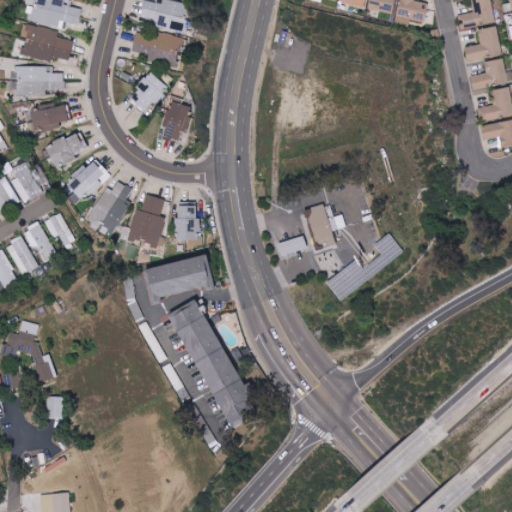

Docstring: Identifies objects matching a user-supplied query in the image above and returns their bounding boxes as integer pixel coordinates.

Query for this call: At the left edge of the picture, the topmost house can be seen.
[25,0,80,30]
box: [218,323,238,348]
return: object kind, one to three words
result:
swimming pool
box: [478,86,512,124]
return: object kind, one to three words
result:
house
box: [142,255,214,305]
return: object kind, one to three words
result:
building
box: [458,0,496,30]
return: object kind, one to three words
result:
house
